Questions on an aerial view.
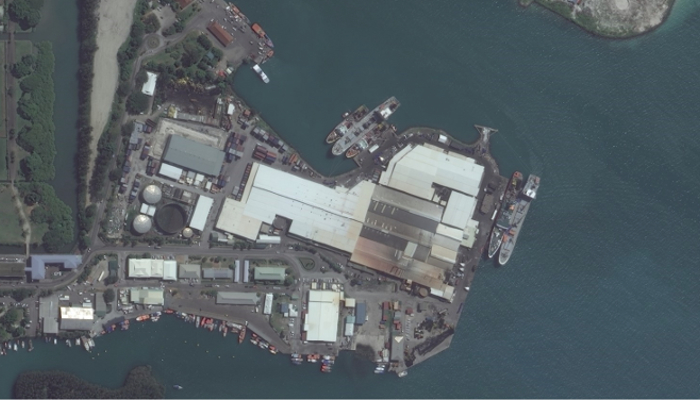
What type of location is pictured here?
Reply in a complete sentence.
What you see here is a port.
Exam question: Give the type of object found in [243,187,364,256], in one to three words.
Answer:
shed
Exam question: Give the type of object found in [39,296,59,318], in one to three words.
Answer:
building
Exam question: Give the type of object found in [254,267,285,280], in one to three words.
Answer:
building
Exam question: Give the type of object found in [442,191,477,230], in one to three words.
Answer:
shed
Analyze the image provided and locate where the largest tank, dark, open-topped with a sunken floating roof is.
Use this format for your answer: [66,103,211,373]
[154,202,186,234]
